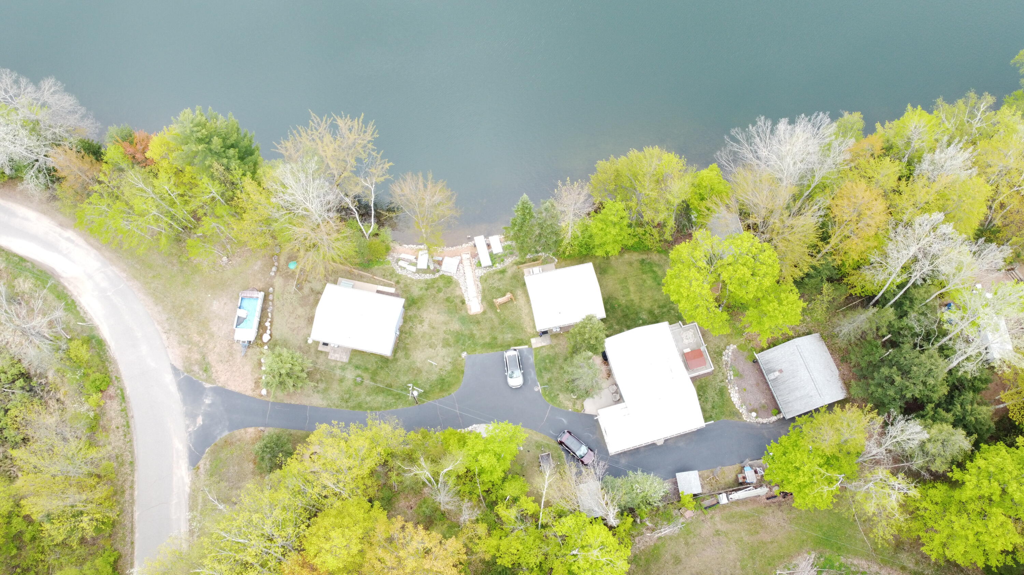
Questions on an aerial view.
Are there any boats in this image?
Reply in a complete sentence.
Yes, a boat can be made out from above.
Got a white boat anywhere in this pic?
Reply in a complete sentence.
Yes, the image includes a white boat.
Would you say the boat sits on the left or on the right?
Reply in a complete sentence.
The boat appears in the left half of the scene.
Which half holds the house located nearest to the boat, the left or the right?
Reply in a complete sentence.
It is on the left.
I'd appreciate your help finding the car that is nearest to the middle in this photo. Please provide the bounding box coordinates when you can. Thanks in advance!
[503,348,524,390]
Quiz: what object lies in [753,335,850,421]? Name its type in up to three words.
building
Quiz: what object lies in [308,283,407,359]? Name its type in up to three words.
house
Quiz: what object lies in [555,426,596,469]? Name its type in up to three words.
car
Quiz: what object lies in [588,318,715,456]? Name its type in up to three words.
house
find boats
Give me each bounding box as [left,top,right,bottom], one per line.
[232,286,264,344]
